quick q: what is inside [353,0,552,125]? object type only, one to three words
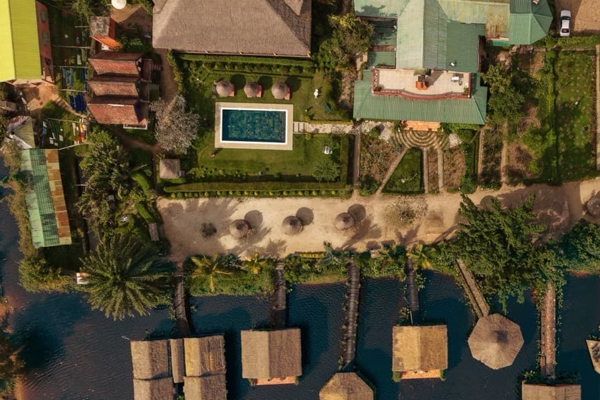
building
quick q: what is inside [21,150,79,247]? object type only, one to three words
shed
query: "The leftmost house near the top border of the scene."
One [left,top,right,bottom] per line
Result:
[0,0,62,89]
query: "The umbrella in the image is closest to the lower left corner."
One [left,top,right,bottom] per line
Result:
[231,217,251,238]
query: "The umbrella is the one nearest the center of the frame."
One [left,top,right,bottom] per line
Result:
[282,214,303,235]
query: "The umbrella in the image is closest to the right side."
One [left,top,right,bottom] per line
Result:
[585,196,600,216]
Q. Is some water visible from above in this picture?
Yes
